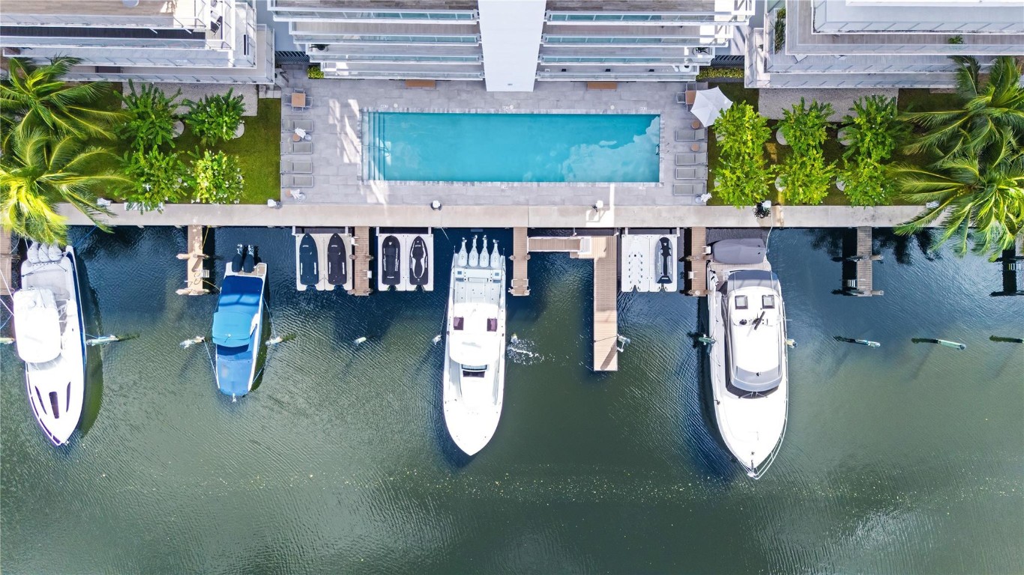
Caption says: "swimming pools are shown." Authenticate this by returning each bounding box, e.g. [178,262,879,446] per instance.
[356,108,675,187]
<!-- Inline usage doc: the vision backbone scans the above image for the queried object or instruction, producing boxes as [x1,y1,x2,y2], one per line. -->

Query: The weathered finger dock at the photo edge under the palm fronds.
[1000,228,1024,296]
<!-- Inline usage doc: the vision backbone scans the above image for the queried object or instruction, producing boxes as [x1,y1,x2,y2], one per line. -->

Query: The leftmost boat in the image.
[13,244,95,447]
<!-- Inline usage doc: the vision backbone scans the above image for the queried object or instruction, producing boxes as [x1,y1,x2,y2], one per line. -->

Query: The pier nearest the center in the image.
[508,228,533,295]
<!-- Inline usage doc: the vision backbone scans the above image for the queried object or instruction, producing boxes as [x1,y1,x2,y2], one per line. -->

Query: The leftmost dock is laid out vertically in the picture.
[0,228,27,293]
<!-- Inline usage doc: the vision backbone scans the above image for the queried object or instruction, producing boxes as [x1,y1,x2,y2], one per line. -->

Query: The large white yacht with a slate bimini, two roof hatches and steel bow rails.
[705,258,791,481]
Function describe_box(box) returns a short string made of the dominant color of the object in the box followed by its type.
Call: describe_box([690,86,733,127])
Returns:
white umbrella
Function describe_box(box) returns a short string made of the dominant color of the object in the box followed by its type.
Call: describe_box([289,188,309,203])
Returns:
white umbrella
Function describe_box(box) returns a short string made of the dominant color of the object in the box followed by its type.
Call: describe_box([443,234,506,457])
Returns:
white boat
